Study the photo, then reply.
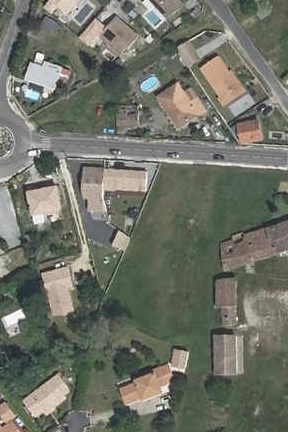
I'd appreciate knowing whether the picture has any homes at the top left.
Yes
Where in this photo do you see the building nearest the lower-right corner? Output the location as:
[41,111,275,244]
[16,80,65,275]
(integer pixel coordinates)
[213,335,245,376]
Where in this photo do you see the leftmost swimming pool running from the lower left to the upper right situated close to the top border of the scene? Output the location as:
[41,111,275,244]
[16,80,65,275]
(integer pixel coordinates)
[77,2,95,26]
